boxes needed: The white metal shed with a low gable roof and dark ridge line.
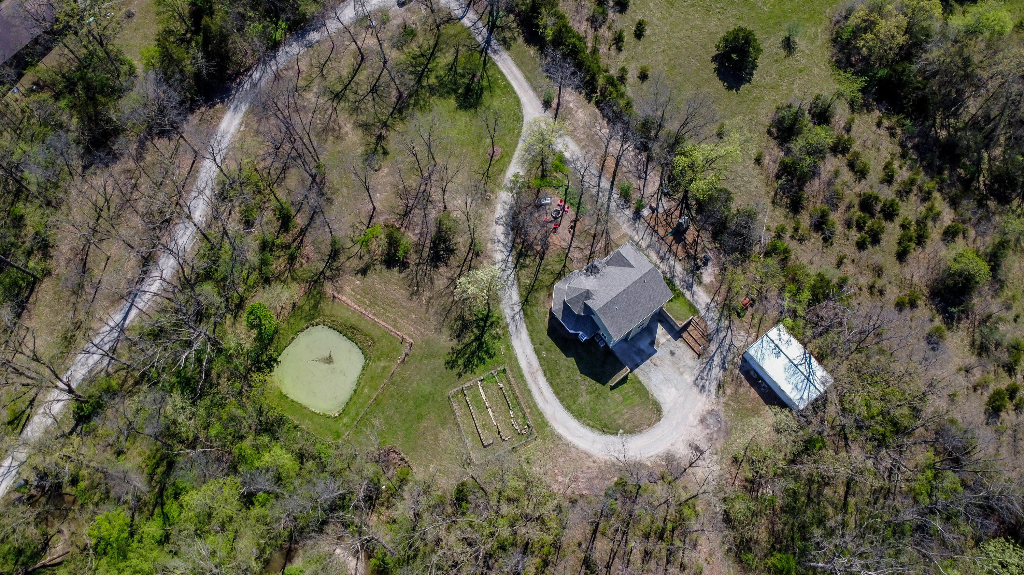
[743,323,833,411]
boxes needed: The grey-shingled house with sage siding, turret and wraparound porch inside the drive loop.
[552,240,674,348]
